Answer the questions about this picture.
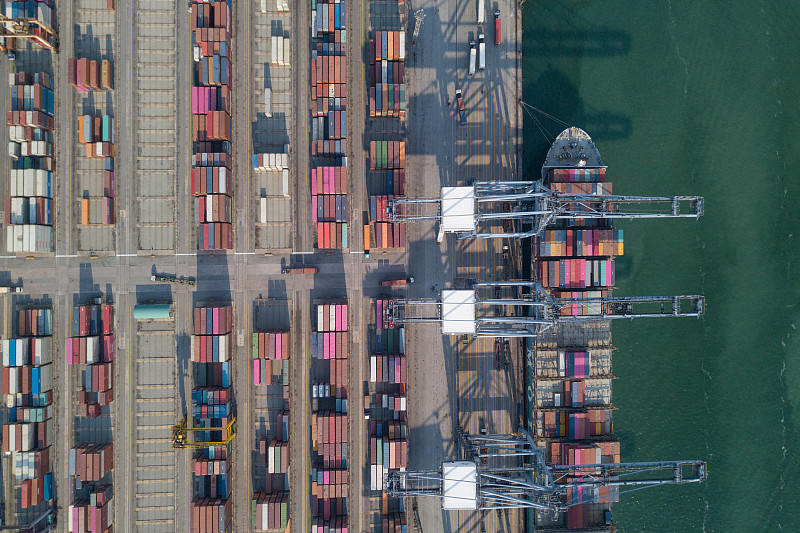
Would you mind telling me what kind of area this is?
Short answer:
port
